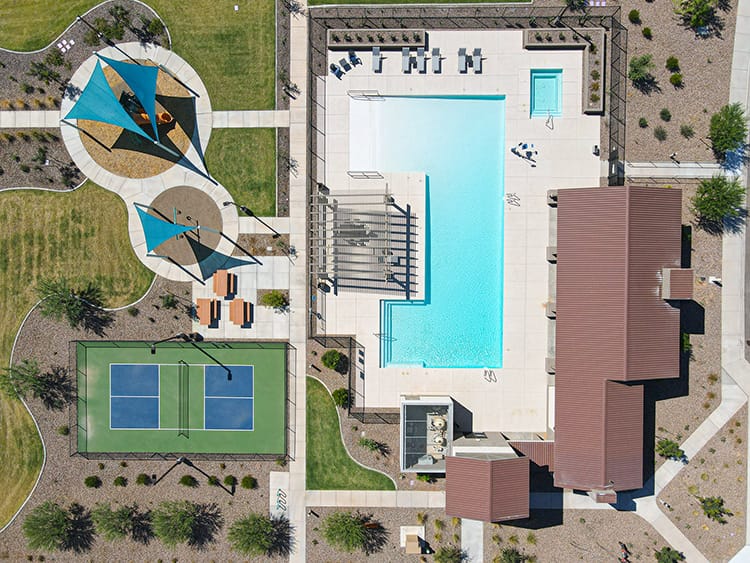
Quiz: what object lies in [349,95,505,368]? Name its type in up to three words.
swimming pool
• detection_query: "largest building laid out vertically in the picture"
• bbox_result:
[547,185,692,503]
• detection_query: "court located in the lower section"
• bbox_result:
[77,341,286,454]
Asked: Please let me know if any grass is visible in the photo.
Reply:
Yes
